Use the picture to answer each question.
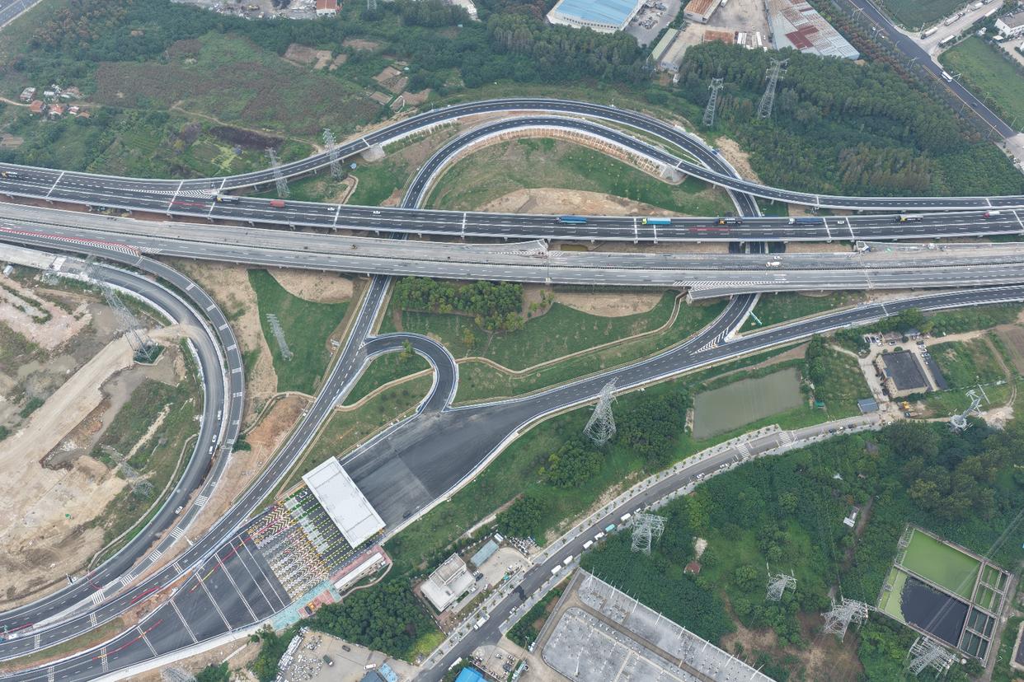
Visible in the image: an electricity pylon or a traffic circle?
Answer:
electricity pylon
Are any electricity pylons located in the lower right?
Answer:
Yes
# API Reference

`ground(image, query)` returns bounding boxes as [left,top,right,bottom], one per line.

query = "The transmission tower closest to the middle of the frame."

[583,378,616,448]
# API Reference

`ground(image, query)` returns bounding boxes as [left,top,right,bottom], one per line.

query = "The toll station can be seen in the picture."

[243,458,395,605]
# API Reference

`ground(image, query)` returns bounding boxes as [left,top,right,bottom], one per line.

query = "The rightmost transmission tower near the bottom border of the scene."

[903,639,962,679]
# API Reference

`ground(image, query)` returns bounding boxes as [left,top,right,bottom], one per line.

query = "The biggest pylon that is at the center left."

[89,262,162,363]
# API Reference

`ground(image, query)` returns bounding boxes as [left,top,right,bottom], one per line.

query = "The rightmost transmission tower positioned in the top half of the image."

[760,63,786,105]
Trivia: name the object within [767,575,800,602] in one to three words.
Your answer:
pylon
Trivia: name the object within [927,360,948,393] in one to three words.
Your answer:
shed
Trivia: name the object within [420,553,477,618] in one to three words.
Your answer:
building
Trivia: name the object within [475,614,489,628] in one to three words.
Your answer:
vehicle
